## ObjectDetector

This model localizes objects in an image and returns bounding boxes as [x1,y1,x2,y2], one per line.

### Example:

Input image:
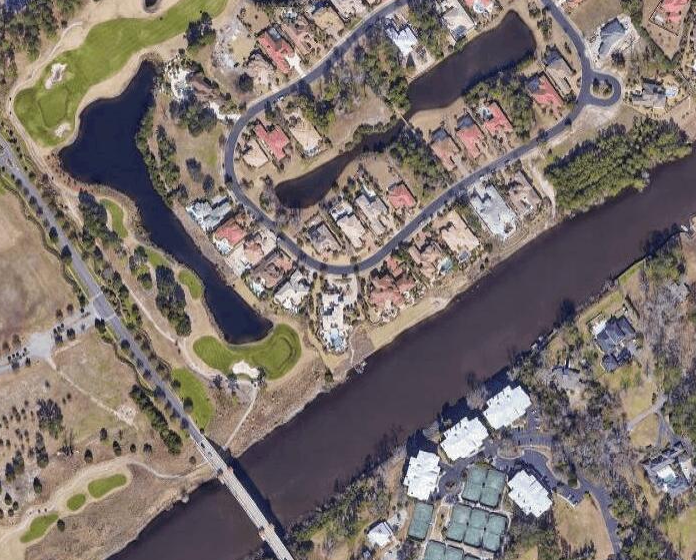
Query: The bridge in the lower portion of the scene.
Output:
[195,436,293,560]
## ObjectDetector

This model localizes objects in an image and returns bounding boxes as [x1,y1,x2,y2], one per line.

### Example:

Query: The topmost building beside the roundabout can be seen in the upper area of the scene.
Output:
[597,21,628,56]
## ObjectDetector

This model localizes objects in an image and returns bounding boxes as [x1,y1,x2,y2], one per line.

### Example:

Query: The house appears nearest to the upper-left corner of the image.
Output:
[179,71,224,109]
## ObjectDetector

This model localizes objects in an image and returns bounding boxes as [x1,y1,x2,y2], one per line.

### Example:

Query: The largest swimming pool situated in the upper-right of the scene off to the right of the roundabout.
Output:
[664,85,680,98]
